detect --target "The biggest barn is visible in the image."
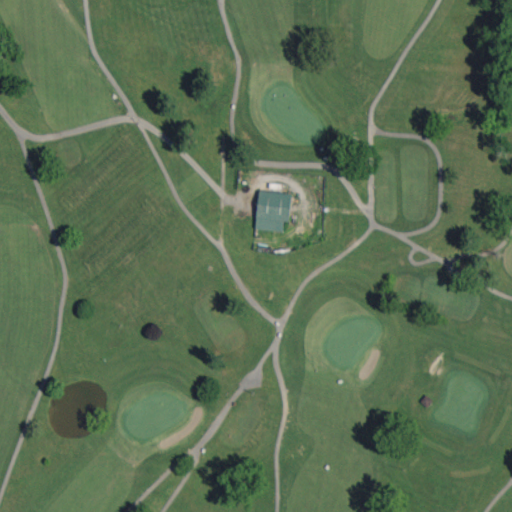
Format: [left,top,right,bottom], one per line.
[256,191,292,232]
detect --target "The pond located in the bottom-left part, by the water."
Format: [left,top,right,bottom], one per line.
[49,380,108,438]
